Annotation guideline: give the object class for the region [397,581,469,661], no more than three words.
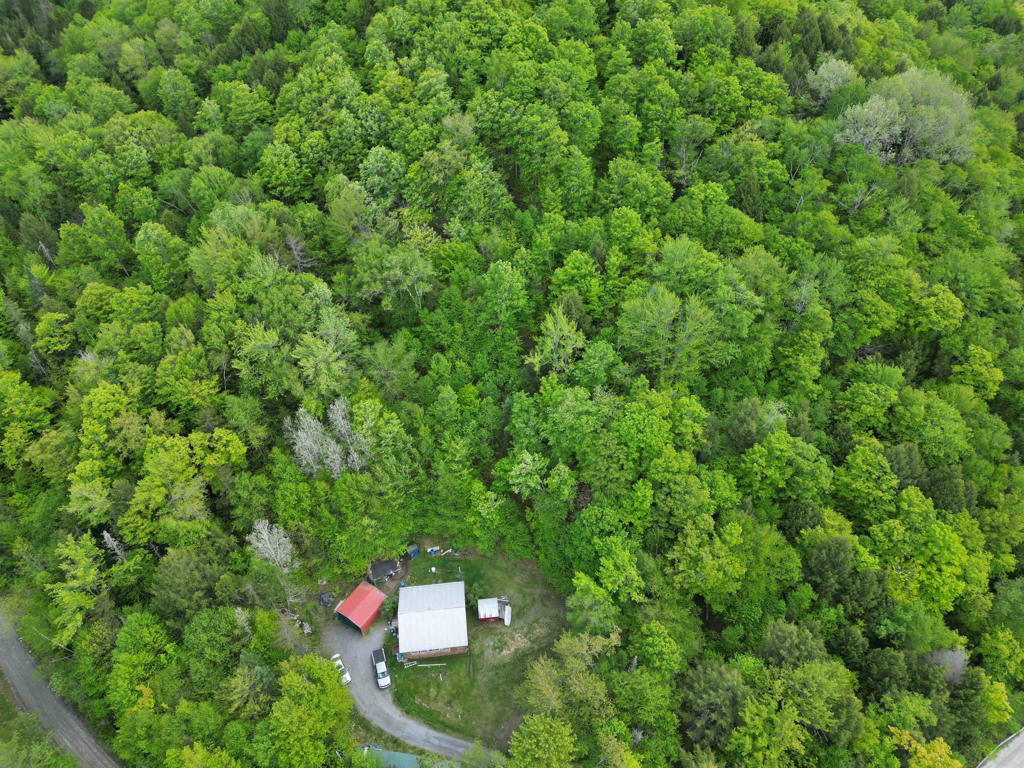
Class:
house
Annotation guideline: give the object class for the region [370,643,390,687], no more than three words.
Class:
vehicle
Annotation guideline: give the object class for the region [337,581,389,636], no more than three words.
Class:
building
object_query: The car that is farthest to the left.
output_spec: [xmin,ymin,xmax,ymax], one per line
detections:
[327,650,349,685]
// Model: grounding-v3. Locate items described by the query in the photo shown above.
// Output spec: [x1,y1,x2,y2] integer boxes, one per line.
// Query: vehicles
[327,650,349,685]
[370,643,390,687]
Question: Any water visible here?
No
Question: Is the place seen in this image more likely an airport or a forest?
forest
